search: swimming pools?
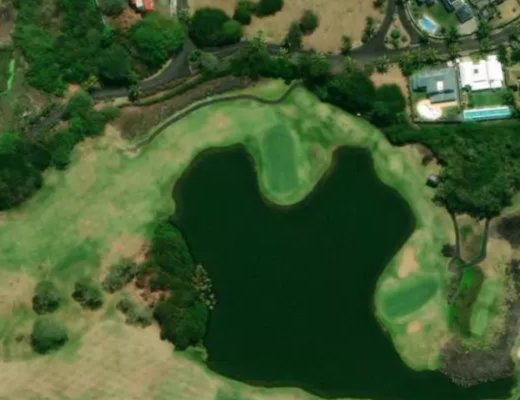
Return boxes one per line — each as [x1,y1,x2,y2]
[419,15,440,34]
[463,107,510,122]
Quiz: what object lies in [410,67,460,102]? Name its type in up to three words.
house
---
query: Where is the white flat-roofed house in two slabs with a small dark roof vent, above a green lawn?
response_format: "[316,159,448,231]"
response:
[460,54,504,90]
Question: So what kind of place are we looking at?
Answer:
golf course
